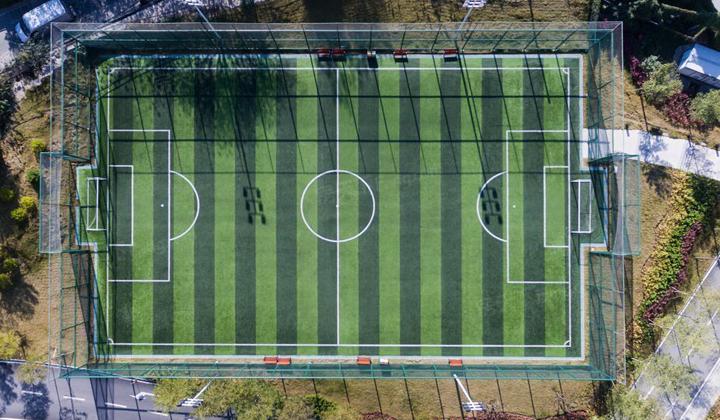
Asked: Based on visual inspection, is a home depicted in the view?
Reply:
No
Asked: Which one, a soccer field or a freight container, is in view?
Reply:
soccer field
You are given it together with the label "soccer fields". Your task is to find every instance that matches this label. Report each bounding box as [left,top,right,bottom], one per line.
[77,53,605,359]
